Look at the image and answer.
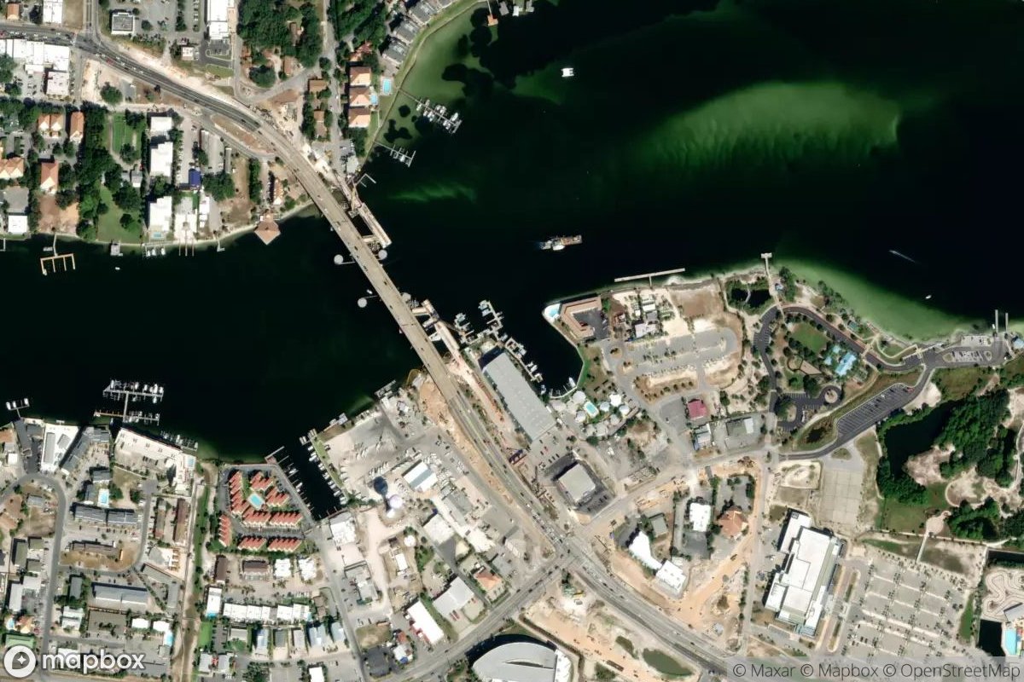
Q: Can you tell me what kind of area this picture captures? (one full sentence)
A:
This image shows a port.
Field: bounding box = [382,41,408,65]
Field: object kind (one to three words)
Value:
house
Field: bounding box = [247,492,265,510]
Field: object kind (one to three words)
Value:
swimming pool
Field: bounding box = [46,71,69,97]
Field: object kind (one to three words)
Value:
building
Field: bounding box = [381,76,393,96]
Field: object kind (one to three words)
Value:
swimming pool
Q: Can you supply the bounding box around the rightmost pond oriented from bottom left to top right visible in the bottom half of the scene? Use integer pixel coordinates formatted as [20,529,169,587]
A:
[884,401,959,470]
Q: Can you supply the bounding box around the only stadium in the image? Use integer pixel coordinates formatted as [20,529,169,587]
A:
[472,643,571,682]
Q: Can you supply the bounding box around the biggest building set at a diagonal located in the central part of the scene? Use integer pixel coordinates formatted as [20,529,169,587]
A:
[481,353,556,445]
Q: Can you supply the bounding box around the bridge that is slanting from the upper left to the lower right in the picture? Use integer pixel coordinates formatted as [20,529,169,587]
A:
[250,121,462,399]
